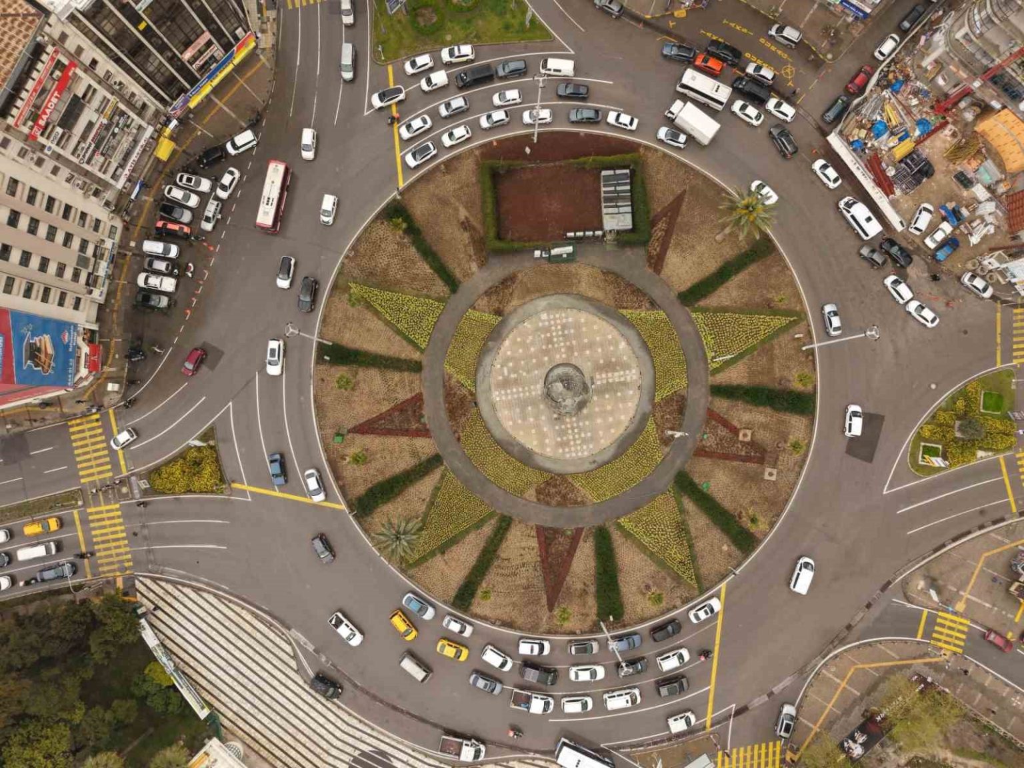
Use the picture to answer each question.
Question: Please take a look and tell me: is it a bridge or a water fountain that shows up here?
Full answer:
There is a water fountain in the scene.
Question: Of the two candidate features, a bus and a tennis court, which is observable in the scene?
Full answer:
I can see a bus in this picture.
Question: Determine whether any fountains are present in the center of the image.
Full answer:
Yes, a fountain can be seen in the center of the image.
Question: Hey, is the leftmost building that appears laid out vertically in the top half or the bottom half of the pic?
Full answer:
The leftmost building that appears laid out vertically sits in the top half of the picture.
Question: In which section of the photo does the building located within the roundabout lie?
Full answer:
The building located within the roundabout sits in the top section of the image.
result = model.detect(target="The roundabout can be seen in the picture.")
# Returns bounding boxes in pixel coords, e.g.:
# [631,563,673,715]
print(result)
[313,132,818,637]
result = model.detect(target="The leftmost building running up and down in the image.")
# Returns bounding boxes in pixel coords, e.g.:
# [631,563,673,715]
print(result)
[0,122,132,409]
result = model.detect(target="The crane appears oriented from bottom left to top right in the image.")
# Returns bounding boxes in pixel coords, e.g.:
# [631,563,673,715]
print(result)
[930,49,1022,118]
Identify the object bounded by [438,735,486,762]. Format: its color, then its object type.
white truck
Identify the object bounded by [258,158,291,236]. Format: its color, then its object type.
white bus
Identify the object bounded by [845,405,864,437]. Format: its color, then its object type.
white vehicle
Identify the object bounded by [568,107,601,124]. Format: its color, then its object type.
gray car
